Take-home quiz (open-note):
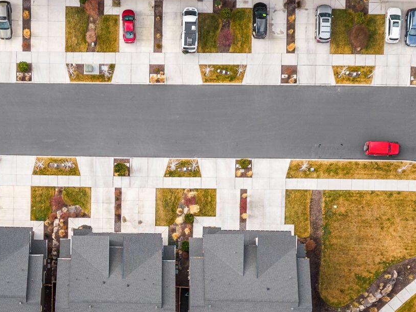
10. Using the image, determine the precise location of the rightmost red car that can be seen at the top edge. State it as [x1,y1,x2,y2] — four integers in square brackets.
[121,9,137,45]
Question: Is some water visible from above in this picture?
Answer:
No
